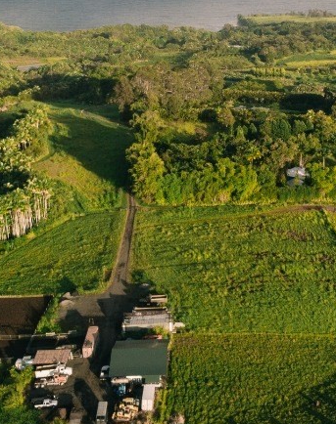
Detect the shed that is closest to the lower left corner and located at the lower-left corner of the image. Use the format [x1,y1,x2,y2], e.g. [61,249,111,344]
[33,350,73,371]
